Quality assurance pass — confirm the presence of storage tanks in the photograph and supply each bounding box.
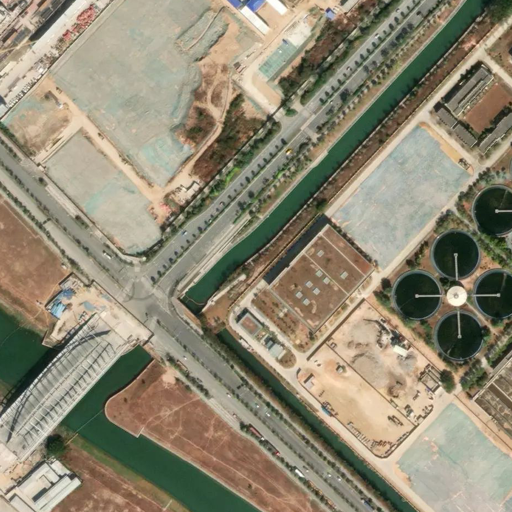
[474,270,512,320]
[472,186,512,236]
[434,310,484,360]
[431,230,481,280]
[392,270,443,320]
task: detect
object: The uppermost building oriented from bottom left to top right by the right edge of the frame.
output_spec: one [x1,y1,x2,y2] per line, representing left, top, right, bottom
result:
[445,67,494,116]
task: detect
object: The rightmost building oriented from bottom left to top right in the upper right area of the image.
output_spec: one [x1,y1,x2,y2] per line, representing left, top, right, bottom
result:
[480,115,512,154]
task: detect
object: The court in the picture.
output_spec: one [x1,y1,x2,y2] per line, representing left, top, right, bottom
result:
[259,37,301,79]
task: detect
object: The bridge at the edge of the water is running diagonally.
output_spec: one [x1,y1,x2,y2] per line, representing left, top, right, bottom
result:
[0,312,129,462]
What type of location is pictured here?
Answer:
industrial area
